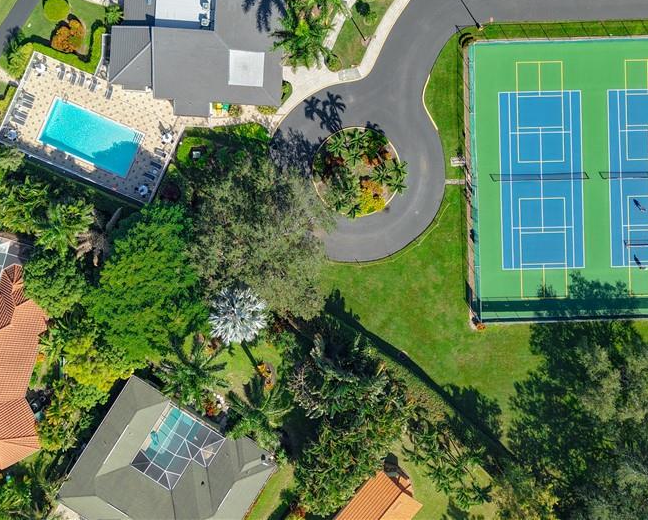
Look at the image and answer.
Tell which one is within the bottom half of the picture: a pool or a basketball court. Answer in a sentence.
There is a pool within the bottom half of the picture.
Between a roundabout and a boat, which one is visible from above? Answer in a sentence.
Visible in the photo is a roundabout.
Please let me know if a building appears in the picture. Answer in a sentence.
Yes, the image includes a building.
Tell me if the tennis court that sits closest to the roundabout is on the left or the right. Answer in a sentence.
The tennis court that sits closest to the roundabout appears in the right half of the scene.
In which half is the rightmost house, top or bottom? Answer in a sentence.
You can find the rightmost house in the bottom half.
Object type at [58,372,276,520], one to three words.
house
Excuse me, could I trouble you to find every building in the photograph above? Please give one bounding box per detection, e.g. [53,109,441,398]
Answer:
[109,0,284,118]
[330,461,422,520]
[0,264,49,470]
[58,372,276,520]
